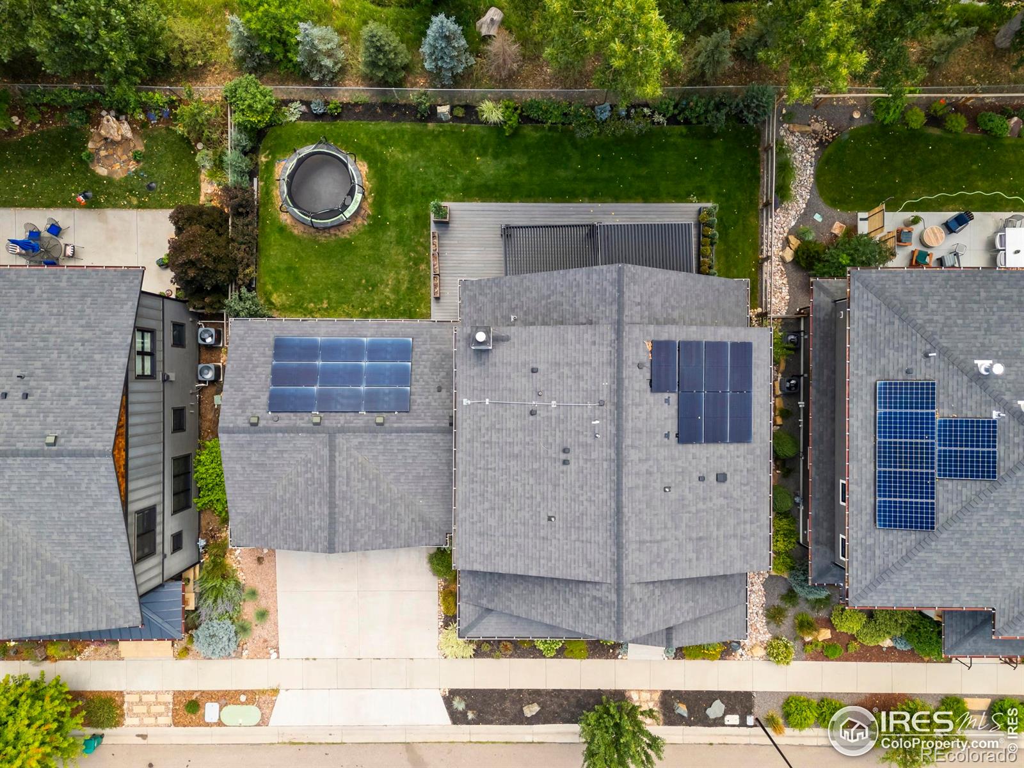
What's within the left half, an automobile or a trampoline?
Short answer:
trampoline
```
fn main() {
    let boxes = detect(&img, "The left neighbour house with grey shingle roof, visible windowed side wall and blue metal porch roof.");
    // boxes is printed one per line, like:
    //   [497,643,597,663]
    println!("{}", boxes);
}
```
[0,264,204,642]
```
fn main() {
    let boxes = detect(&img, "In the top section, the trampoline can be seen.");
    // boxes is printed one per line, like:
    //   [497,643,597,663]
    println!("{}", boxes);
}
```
[278,136,365,233]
